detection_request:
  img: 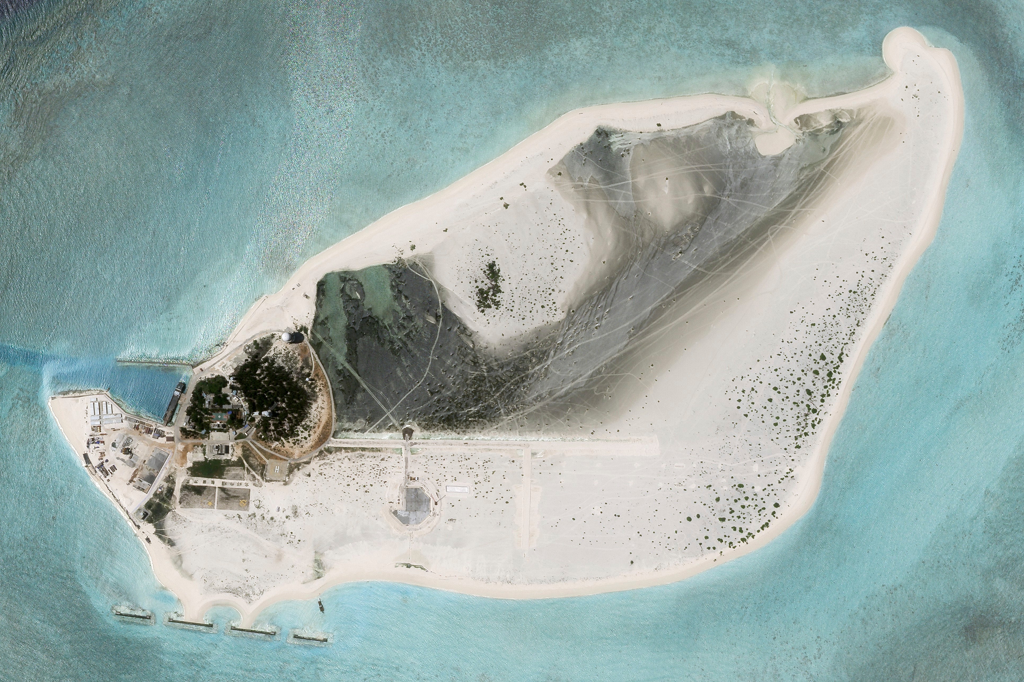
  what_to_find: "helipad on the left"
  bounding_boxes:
[263,459,288,482]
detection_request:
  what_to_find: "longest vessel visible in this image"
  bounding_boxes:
[162,382,184,427]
